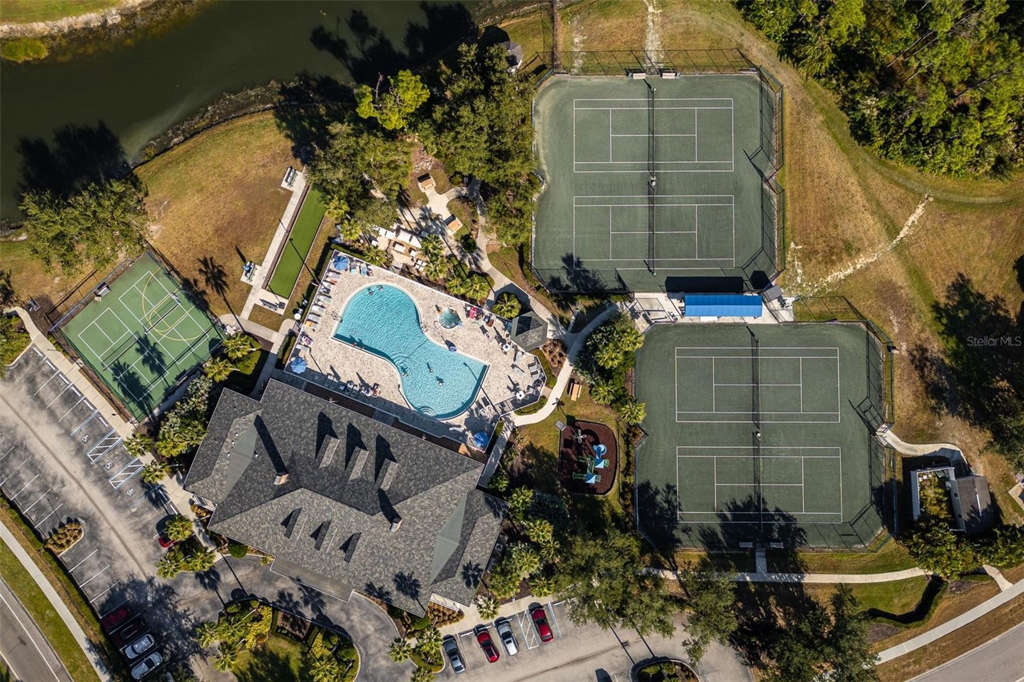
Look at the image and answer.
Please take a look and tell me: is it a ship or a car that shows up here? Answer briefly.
car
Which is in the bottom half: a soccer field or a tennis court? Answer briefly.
tennis court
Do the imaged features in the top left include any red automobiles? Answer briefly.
No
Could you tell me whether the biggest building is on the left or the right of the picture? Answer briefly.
left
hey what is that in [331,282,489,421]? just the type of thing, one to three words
swimming pool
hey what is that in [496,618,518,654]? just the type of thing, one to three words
car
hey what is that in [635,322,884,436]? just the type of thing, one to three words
tennis court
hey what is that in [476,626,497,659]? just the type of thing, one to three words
car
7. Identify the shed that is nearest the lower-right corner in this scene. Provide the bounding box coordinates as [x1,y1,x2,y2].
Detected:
[946,475,992,534]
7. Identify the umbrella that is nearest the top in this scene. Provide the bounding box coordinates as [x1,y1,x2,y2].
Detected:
[332,254,350,271]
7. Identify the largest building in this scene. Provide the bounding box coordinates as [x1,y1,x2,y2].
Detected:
[182,378,510,618]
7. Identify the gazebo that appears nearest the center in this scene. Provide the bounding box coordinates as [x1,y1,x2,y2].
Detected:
[510,311,548,351]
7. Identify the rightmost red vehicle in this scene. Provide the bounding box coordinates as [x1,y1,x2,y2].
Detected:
[531,605,552,641]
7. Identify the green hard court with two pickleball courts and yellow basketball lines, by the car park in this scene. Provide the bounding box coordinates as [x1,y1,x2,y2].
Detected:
[61,251,222,422]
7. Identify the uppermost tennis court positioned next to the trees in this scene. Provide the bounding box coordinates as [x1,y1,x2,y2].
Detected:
[533,72,776,184]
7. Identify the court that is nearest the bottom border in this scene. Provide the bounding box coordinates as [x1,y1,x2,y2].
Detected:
[636,435,888,550]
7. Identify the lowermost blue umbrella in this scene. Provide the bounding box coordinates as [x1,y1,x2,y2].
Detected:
[472,430,490,448]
